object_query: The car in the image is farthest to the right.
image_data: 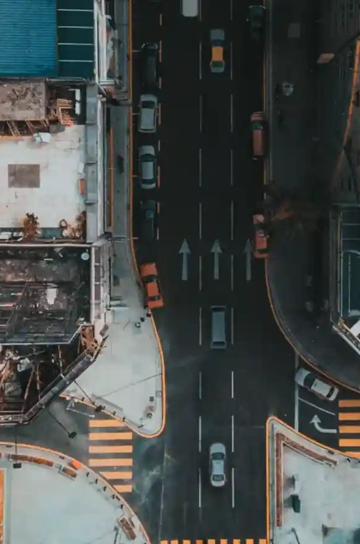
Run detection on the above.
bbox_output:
[295,369,339,402]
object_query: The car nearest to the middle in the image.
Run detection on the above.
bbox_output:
[140,262,163,308]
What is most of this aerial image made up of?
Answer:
paved ground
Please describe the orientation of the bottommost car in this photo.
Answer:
up and down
